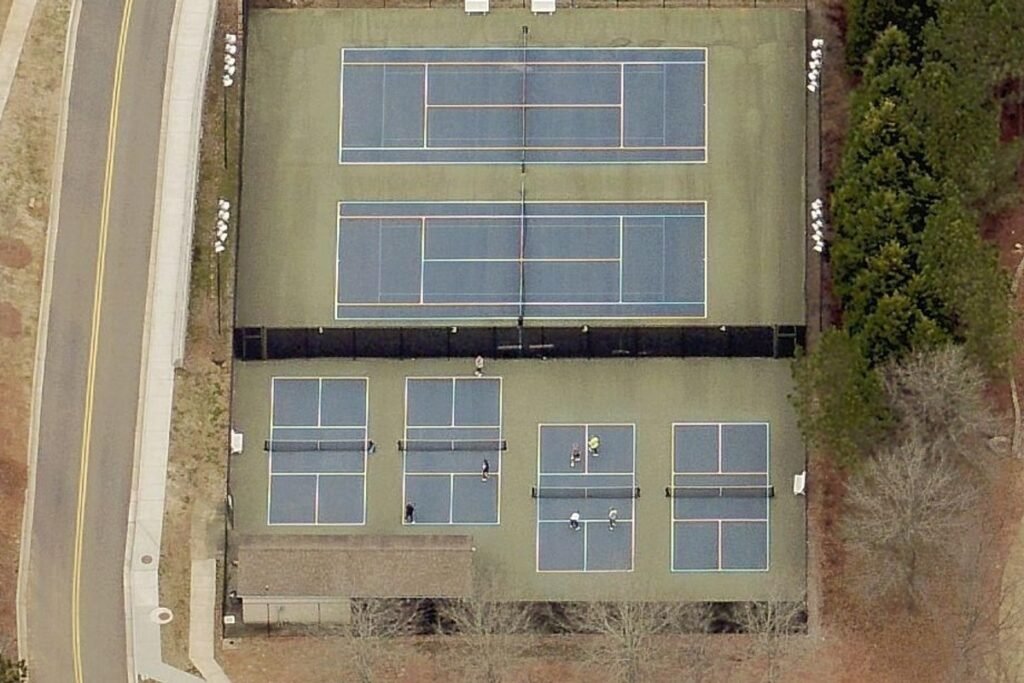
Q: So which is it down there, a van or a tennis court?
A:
tennis court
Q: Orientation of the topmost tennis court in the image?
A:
from side to side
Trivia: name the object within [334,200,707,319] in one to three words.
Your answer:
tennis court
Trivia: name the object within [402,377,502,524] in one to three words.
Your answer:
sports court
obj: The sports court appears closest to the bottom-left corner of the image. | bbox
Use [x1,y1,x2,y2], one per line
[267,377,369,524]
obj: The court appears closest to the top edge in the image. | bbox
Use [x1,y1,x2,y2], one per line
[338,47,707,164]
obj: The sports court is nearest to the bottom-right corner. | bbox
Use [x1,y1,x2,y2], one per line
[671,423,769,571]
